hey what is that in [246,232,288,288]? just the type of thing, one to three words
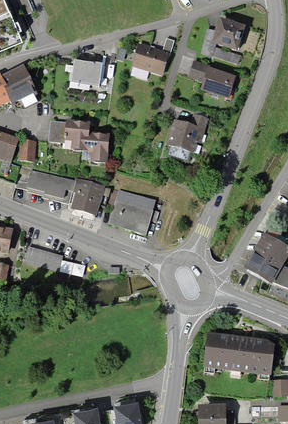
house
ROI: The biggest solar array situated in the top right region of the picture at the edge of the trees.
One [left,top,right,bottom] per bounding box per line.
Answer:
[202,79,234,98]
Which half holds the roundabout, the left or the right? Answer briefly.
right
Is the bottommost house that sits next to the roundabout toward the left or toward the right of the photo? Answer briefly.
right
